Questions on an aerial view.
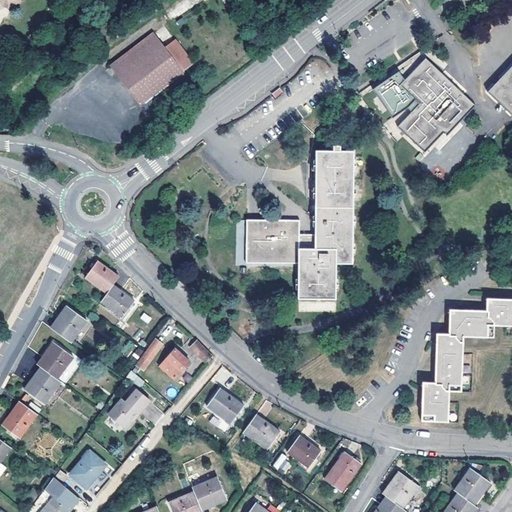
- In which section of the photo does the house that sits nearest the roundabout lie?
left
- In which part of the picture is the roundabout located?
left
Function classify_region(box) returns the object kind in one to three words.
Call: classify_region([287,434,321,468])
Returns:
house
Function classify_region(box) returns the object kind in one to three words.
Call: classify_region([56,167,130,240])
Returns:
roundabout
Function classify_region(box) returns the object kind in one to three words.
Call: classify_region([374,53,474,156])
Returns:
building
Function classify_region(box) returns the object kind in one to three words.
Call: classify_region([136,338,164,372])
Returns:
shed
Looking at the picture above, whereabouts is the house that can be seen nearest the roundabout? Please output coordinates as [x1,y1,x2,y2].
[85,260,118,293]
